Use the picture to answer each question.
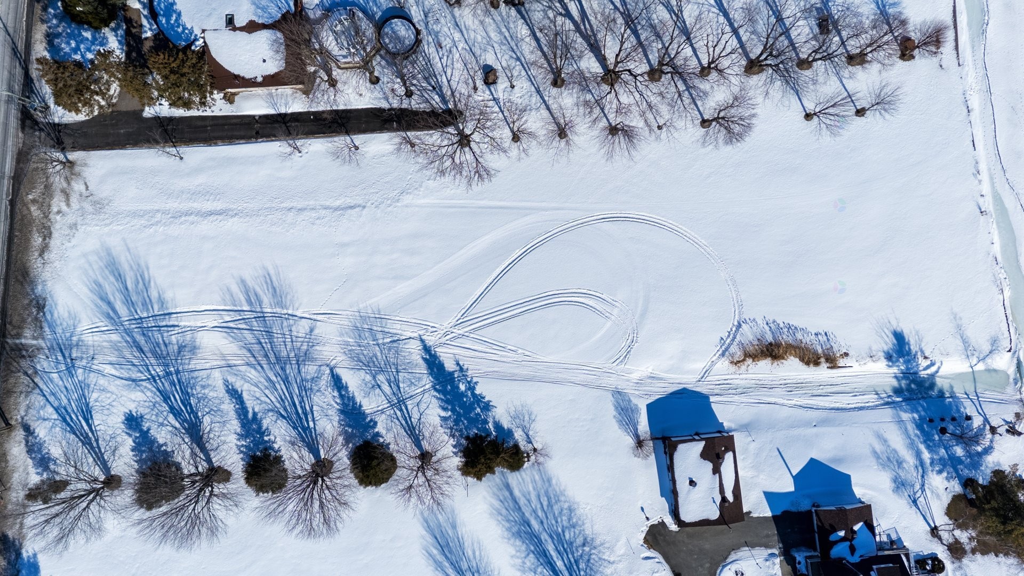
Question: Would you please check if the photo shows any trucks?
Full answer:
No, the picture doesn't show any truck.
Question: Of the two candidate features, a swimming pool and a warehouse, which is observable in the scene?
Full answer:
I can see a swimming pool in this picture.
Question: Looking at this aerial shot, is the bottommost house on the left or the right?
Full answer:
The bottommost house is on the right side of the image.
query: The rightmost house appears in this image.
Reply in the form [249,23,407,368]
[800,500,913,576]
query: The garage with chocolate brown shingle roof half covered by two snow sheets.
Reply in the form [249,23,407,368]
[664,431,745,528]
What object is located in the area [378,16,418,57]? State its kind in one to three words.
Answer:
swimming pool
